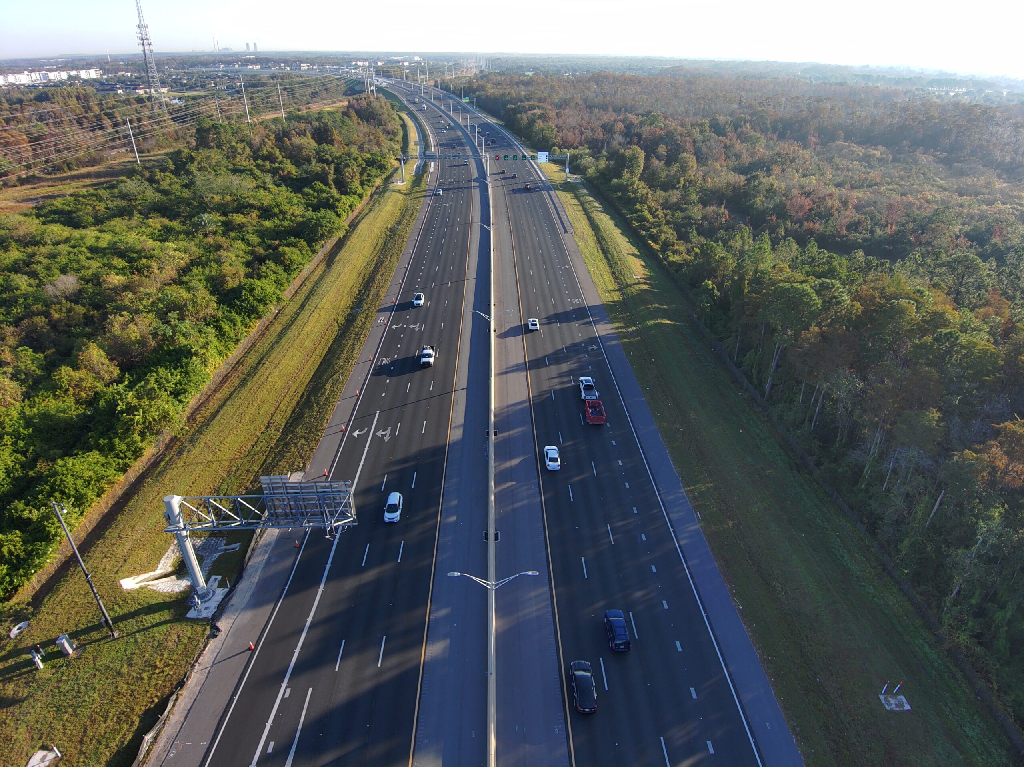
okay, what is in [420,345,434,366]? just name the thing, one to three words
vehicle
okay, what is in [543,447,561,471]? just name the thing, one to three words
car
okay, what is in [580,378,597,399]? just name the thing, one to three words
vehicle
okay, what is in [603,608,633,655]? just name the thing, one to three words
car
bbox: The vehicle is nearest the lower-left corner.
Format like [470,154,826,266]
[383,491,403,523]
